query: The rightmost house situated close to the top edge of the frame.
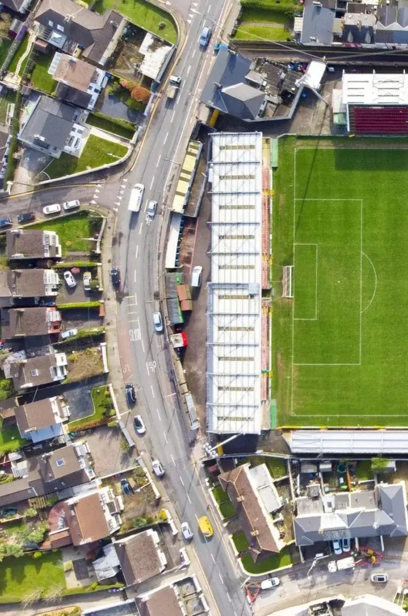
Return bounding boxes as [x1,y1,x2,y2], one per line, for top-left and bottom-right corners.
[373,0,408,53]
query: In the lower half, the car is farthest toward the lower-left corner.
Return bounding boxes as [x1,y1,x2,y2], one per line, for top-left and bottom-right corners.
[121,478,133,495]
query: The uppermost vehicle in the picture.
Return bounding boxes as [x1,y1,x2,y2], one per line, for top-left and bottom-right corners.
[200,26,212,46]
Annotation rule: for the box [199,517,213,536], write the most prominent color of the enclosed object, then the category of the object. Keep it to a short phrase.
yellow car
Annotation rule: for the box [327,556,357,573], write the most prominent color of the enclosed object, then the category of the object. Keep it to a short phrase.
white vehicle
